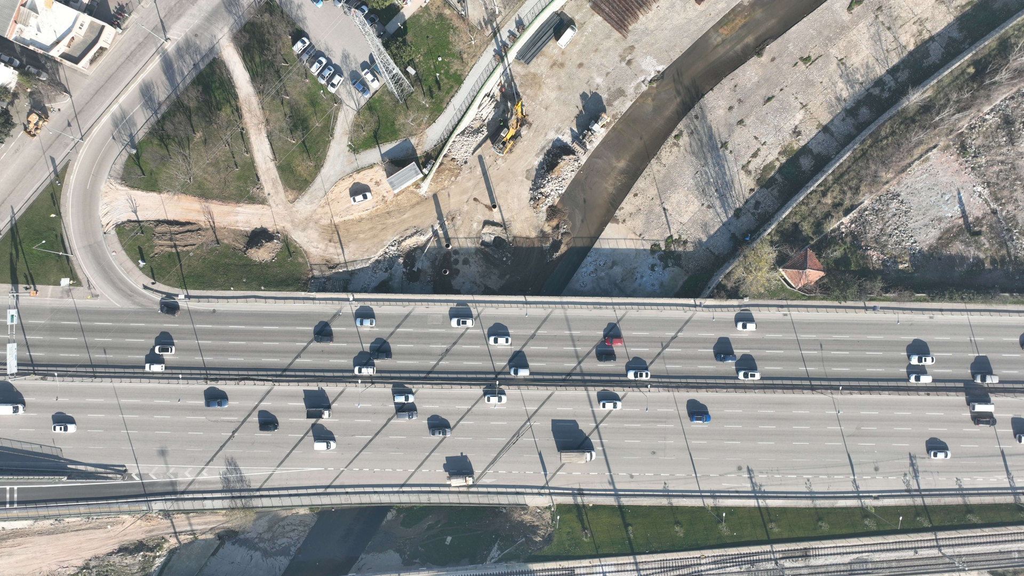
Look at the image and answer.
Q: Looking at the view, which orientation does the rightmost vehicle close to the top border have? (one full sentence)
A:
In this picture, the rightmost vehicle close to the top border is oriented on a diagonal.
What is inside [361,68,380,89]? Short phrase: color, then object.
white car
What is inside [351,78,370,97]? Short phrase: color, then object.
blue car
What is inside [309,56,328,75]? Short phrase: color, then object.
white car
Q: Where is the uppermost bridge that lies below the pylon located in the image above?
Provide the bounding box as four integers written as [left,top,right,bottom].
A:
[180,293,712,510]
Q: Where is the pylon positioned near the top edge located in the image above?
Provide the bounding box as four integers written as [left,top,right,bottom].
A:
[340,0,413,102]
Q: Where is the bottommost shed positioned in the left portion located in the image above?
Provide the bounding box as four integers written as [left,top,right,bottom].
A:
[386,162,425,195]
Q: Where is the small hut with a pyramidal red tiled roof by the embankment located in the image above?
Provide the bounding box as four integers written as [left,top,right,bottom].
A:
[775,248,826,290]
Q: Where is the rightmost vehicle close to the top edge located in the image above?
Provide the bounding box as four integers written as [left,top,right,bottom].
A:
[555,26,578,50]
